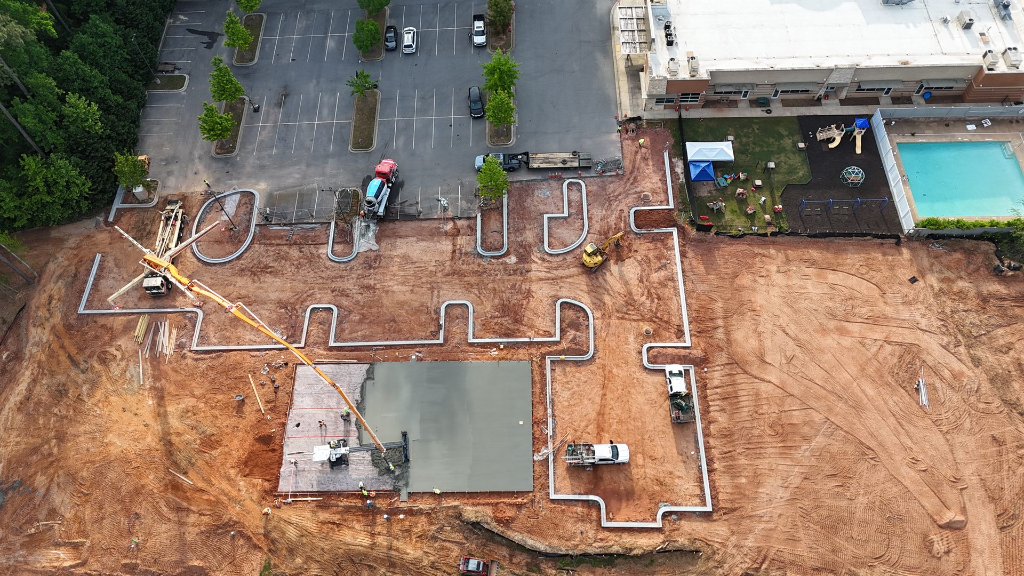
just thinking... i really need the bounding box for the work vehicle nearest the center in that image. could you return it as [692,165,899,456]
[581,231,620,270]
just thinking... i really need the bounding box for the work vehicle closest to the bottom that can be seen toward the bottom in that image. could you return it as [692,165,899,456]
[458,556,501,576]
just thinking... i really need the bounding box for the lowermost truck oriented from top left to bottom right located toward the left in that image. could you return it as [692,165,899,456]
[108,199,390,463]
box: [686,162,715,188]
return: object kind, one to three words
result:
tent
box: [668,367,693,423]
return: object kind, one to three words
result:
truck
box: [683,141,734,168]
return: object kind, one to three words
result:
tent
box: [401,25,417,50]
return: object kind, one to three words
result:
car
